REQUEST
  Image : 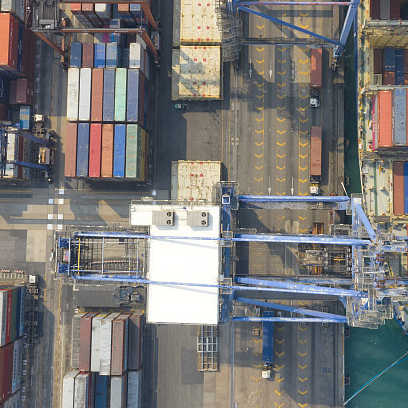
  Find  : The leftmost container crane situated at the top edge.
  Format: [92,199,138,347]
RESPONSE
[28,0,164,66]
